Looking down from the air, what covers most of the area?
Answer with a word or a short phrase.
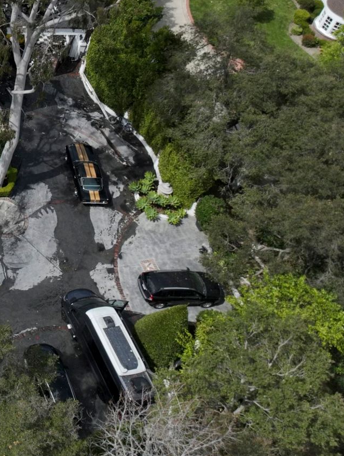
trees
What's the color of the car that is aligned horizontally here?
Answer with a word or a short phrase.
black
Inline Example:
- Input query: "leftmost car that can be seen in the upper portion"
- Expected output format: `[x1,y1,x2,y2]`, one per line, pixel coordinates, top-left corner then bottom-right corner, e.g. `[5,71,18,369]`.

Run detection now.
[64,143,111,206]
